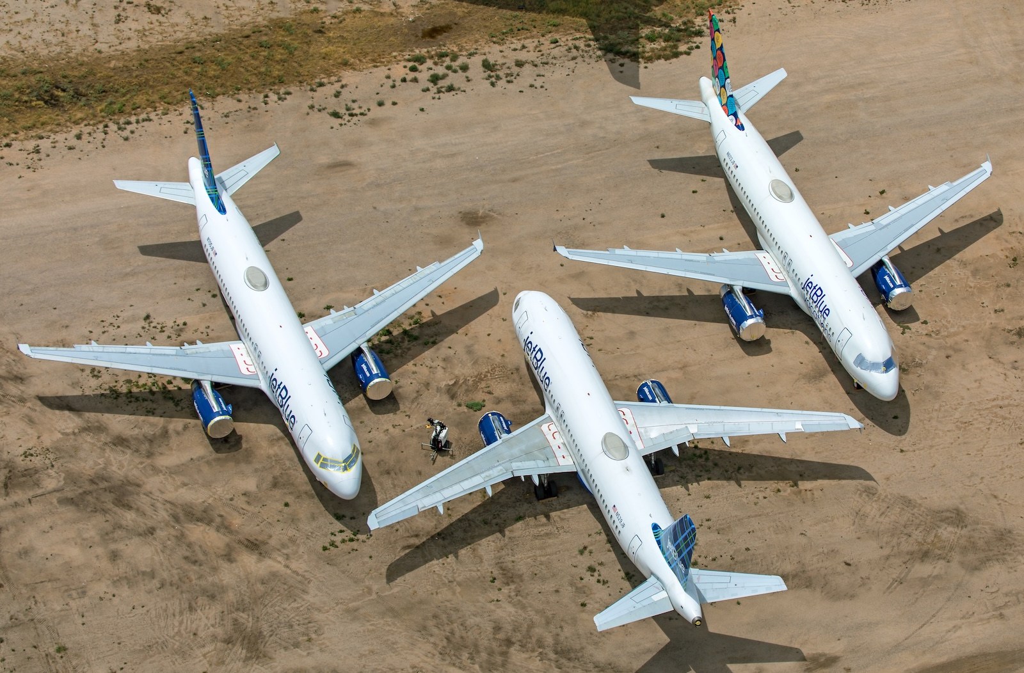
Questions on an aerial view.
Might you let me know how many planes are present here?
3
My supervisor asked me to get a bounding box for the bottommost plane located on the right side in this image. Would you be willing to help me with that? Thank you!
[368,287,863,632]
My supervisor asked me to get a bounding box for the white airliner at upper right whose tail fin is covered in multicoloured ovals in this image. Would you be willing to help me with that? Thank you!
[553,11,993,400]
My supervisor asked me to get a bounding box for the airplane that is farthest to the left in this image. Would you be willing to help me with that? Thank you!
[16,93,484,497]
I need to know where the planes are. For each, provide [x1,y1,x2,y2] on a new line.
[368,287,863,632]
[16,93,484,497]
[553,11,993,400]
